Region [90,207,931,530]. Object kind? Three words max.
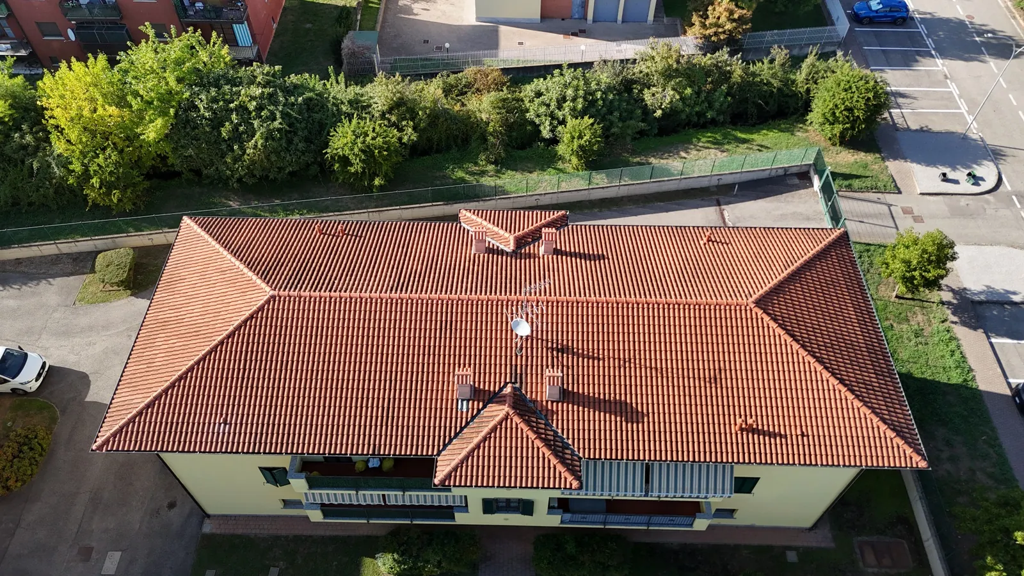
house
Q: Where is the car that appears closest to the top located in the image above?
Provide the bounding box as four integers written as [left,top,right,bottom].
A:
[852,0,914,25]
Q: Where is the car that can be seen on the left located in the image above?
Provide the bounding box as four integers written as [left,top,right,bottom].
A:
[0,343,46,390]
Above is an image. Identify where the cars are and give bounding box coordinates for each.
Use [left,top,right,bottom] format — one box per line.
[1007,381,1024,414]
[0,343,46,390]
[852,0,914,25]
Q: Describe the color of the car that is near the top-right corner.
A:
blue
